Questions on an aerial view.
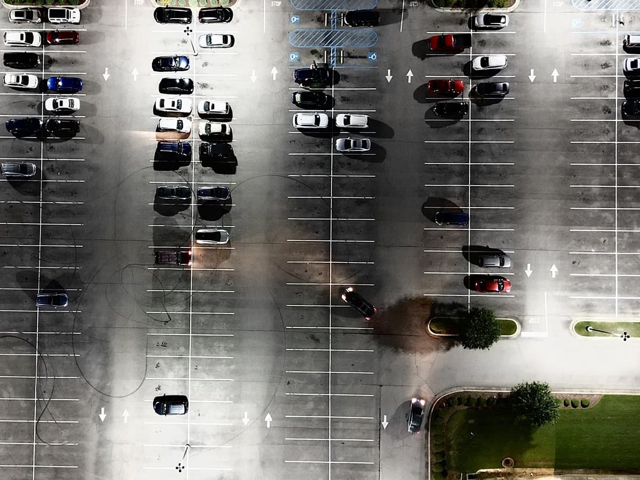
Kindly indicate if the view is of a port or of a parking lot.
parking lot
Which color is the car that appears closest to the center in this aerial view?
black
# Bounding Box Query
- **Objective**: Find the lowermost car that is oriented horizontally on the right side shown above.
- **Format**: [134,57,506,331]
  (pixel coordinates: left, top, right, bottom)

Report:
[473,276,511,294]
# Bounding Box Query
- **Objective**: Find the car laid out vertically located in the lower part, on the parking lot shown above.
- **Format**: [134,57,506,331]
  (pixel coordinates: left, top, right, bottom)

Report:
[406,397,425,434]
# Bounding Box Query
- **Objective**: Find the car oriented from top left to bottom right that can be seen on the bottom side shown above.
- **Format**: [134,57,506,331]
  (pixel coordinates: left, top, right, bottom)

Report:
[342,288,375,320]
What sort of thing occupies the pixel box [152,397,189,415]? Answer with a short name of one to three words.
car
